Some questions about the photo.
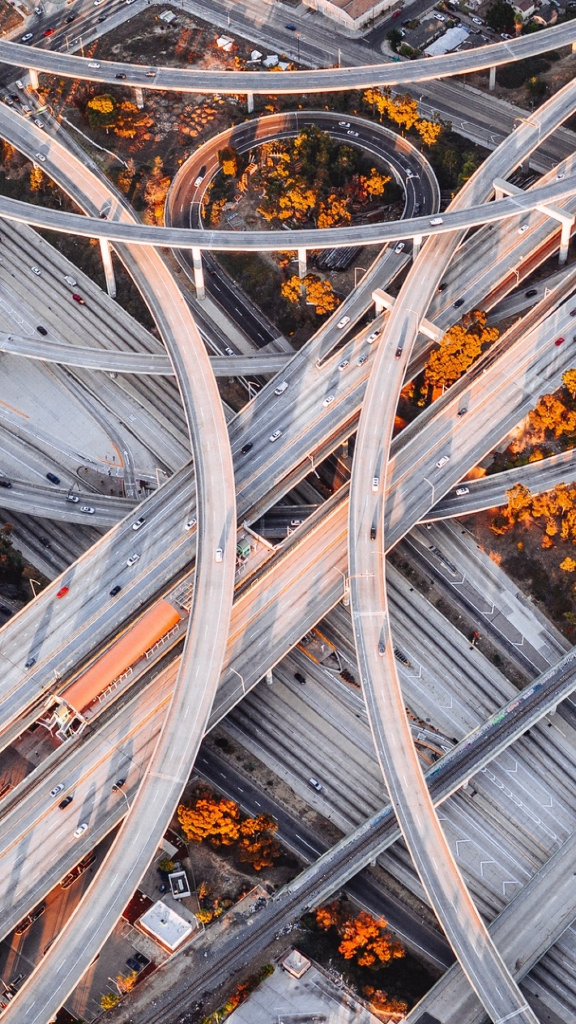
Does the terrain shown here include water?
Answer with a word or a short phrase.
No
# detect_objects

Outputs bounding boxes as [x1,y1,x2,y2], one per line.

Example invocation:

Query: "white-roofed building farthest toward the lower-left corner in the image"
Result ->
[140,900,192,955]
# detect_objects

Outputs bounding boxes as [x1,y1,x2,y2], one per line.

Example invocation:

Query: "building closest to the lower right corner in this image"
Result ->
[224,951,371,1024]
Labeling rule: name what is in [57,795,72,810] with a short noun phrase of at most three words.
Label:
car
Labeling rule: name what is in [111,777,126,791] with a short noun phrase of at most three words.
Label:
car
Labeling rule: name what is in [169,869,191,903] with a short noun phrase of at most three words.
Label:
shed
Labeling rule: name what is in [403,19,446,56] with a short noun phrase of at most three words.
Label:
house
